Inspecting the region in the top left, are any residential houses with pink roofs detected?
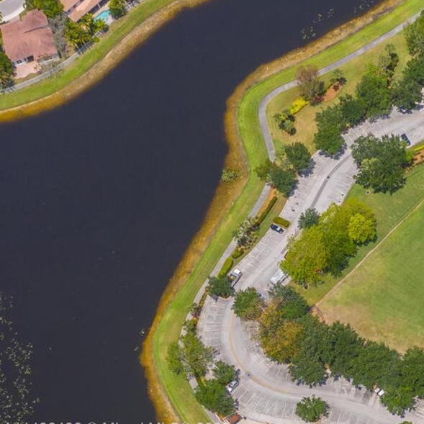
Yes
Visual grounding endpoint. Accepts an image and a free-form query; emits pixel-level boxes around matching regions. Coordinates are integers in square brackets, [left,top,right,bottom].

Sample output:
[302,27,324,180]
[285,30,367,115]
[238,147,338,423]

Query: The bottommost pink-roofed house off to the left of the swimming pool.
[1,10,61,66]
